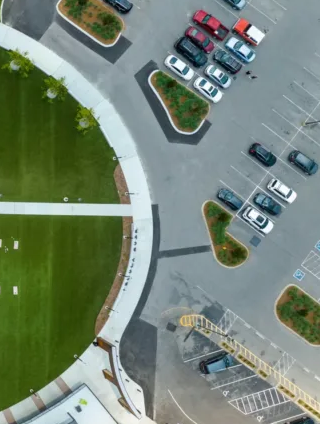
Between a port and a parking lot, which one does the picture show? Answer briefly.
parking lot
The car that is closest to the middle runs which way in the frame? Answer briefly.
diagonally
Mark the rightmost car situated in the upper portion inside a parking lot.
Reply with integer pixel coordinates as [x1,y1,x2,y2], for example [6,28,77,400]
[286,148,319,177]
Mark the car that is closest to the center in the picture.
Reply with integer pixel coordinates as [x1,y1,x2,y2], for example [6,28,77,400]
[214,185,248,214]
